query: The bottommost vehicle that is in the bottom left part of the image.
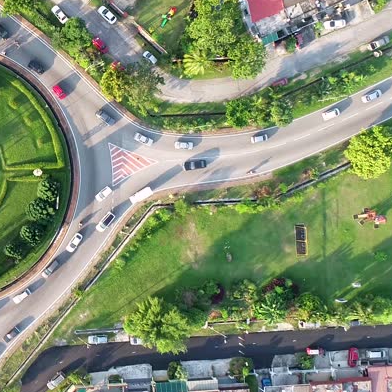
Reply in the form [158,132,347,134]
[45,371,66,389]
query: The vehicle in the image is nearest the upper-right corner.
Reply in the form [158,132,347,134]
[364,36,388,52]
